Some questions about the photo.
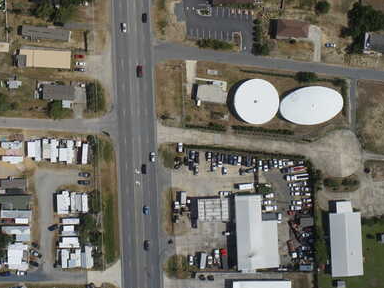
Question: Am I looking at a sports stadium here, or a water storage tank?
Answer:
water storage tank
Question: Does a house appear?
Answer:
Yes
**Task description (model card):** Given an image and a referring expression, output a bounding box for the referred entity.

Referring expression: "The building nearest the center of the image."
[196,84,229,104]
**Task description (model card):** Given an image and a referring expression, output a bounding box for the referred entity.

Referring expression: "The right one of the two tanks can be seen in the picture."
[277,86,343,124]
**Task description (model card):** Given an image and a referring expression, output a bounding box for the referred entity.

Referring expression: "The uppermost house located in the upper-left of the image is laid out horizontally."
[21,25,70,44]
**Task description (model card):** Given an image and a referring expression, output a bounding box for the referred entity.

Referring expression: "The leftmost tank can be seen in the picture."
[233,79,278,124]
